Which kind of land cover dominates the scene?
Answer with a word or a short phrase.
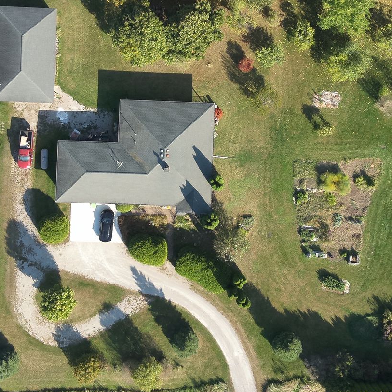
grass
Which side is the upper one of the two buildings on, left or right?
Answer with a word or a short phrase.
left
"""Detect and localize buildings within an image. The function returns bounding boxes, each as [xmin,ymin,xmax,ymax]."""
[0,6,58,104]
[55,99,228,216]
